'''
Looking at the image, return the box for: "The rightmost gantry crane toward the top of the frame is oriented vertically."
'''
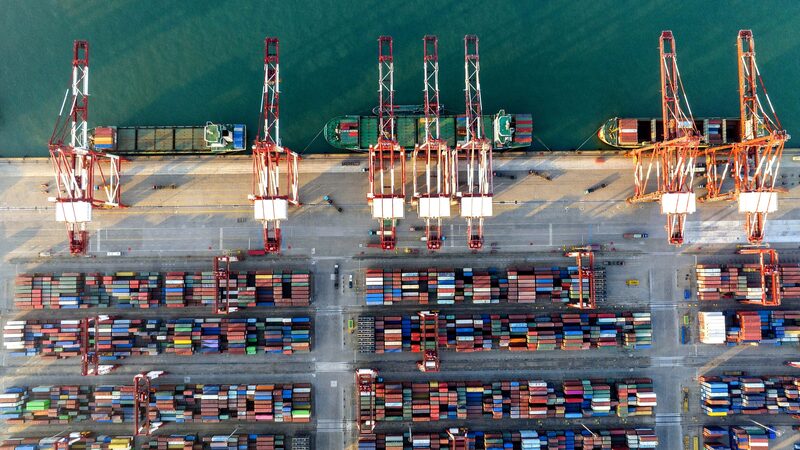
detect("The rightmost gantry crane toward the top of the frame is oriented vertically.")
[701,30,785,247]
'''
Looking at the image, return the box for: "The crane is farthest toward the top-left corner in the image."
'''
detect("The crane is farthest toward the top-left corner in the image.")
[45,38,125,254]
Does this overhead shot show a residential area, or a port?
port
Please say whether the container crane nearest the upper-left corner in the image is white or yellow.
white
